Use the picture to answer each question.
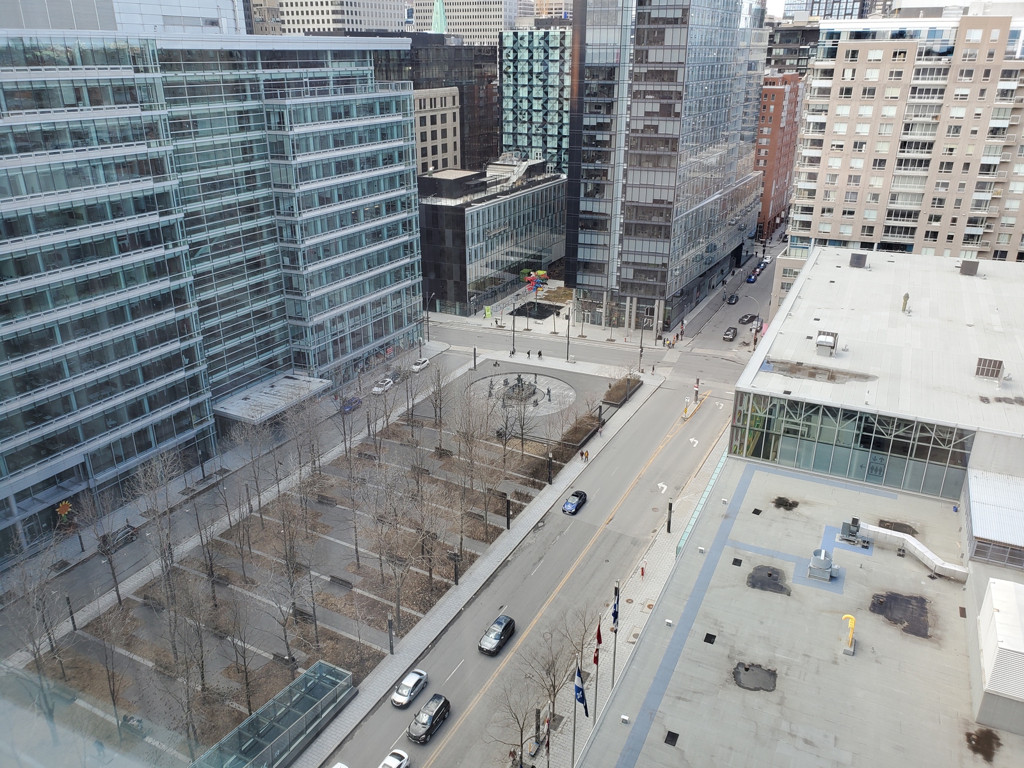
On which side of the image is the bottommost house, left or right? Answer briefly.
left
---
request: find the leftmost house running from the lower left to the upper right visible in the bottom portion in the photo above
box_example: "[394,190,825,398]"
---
[201,657,360,768]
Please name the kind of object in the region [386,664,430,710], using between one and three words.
car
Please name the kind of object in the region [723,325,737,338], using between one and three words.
vehicle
